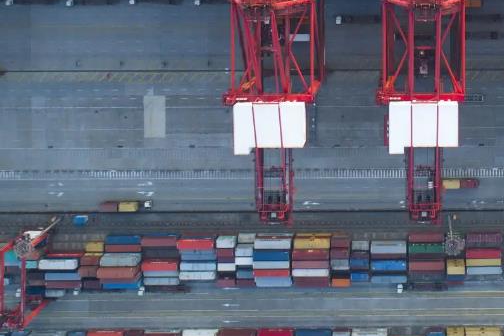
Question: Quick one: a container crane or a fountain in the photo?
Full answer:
I can see a container crane in this picture.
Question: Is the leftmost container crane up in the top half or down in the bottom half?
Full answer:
The bottom half of the photo is where the leftmost container crane is.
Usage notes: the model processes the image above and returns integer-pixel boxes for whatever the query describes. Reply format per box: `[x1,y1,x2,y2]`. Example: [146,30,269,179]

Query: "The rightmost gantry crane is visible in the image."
[378,0,469,232]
